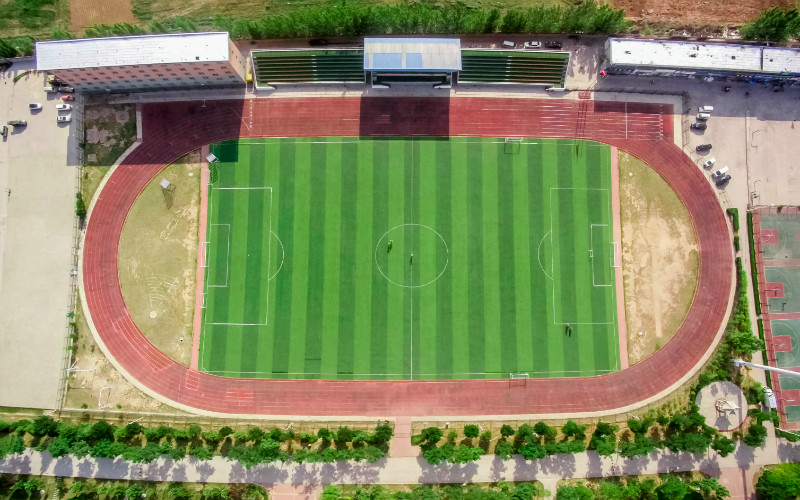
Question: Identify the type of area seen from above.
sports ground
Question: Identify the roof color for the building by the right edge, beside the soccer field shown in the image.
white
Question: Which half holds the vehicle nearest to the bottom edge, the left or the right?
right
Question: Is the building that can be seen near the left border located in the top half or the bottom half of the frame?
top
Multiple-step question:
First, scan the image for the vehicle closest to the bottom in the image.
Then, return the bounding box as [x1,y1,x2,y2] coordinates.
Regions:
[762,384,782,410]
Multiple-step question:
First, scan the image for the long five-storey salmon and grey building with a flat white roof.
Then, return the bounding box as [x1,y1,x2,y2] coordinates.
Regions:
[35,31,246,90]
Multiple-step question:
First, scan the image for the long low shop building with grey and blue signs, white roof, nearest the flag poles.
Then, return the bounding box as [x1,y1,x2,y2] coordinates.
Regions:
[604,36,762,81]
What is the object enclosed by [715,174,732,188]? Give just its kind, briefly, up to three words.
vehicle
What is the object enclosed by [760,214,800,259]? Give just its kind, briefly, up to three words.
basketball court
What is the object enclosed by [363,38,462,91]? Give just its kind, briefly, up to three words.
building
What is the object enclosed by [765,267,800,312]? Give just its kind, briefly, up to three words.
basketball court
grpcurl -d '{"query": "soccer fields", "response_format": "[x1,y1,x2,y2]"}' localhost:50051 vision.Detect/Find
[197,138,623,380]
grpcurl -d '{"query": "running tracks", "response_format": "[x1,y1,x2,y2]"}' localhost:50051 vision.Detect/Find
[77,96,738,422]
